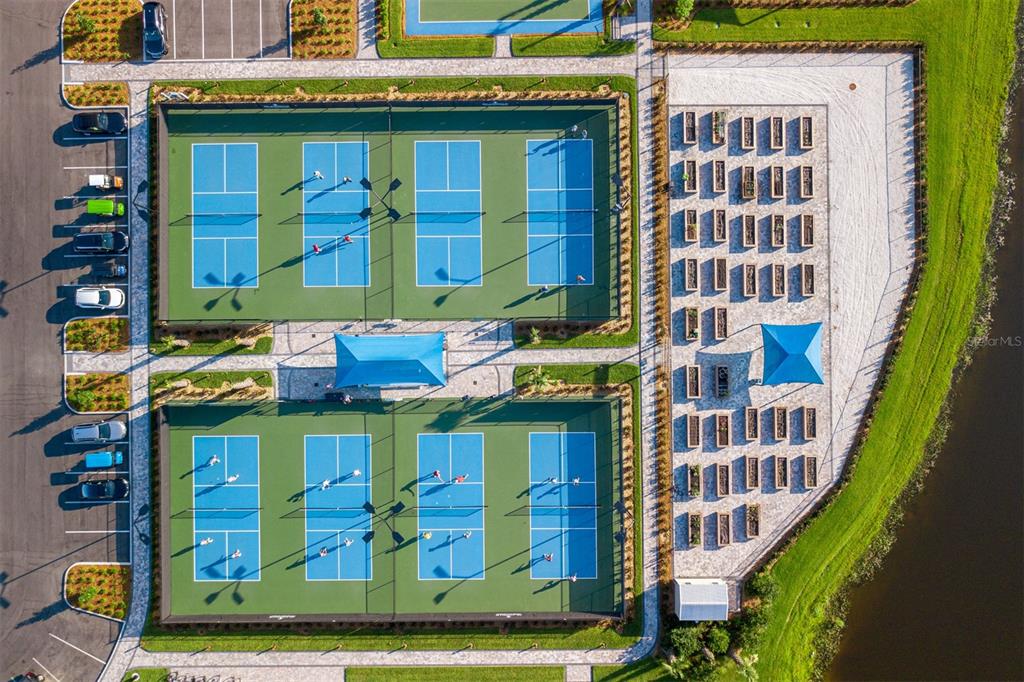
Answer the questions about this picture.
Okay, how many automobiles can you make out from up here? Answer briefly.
6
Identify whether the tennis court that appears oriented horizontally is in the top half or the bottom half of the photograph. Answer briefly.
top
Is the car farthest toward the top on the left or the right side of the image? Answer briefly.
left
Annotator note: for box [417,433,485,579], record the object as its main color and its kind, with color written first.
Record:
blue sports court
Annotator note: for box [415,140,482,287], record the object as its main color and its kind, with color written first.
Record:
blue sports court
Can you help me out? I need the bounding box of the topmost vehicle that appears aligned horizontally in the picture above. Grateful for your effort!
[74,110,128,136]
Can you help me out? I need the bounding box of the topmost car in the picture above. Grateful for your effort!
[140,3,169,58]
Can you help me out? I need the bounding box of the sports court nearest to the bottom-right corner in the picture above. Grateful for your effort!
[529,432,597,578]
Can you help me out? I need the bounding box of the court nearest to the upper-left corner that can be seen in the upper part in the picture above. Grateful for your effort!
[192,143,259,288]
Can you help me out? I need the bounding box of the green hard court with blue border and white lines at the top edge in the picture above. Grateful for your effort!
[406,0,603,35]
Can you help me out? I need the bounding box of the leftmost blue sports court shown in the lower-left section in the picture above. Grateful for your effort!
[194,436,260,581]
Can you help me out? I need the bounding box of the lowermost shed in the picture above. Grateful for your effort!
[676,577,731,620]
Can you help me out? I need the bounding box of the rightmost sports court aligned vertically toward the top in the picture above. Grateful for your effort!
[527,139,594,285]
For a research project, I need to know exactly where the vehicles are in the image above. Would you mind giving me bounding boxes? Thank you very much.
[81,477,131,502]
[73,419,129,444]
[87,263,125,278]
[86,200,124,217]
[140,3,169,58]
[73,286,126,310]
[73,229,131,255]
[86,451,124,468]
[85,175,124,191]
[74,110,128,136]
